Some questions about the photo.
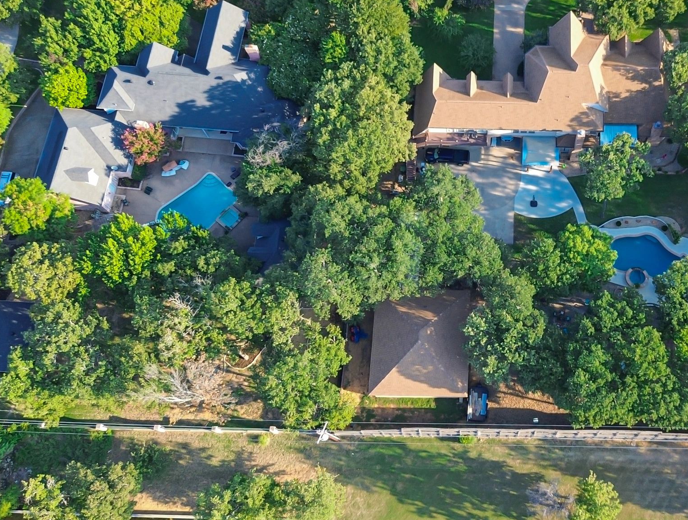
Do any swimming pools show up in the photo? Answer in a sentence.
Yes, there is a swimming pool in the image.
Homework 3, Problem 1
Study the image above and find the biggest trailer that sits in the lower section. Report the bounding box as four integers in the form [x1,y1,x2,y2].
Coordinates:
[466,376,490,422]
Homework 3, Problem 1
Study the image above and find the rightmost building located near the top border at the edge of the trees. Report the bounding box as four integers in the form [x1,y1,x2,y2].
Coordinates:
[412,10,673,171]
